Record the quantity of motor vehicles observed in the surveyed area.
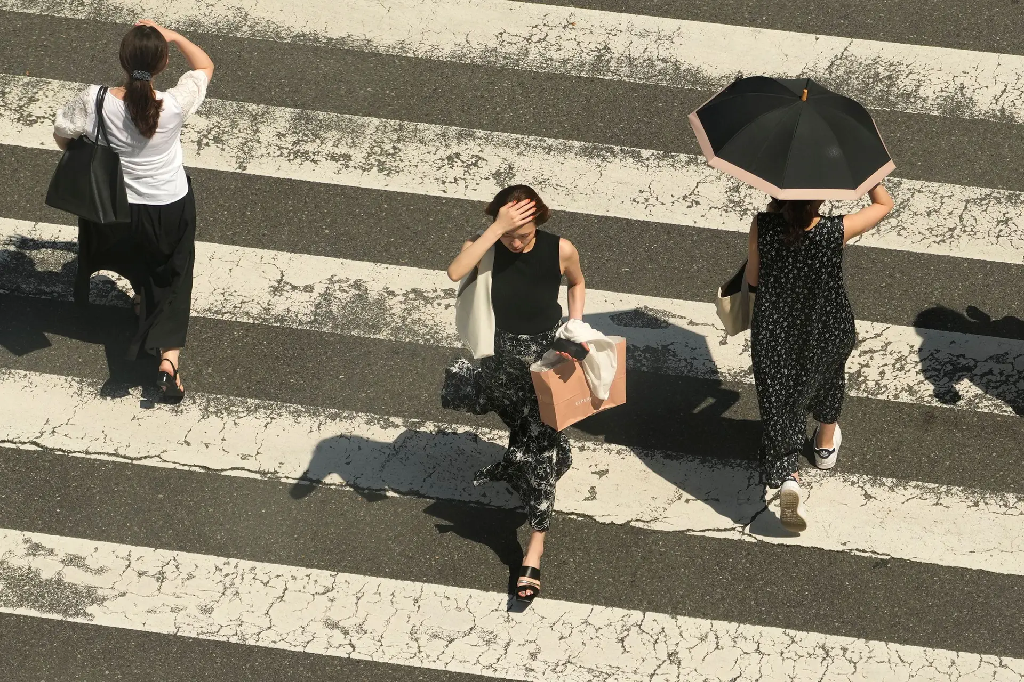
none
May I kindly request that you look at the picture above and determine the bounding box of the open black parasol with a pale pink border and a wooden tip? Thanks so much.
[687,75,899,200]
